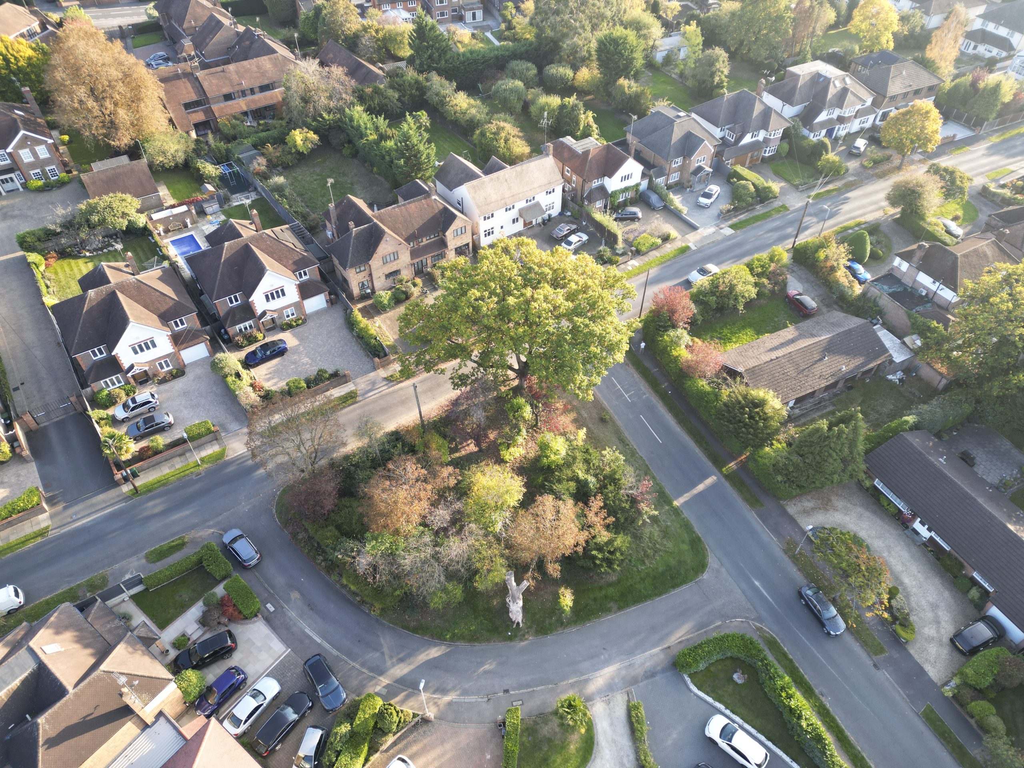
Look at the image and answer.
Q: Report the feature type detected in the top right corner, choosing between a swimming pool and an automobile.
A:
automobile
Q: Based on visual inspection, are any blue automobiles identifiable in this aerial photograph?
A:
Yes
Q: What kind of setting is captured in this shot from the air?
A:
residential area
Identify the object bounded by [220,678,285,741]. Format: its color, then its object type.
white car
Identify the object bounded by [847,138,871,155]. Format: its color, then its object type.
white car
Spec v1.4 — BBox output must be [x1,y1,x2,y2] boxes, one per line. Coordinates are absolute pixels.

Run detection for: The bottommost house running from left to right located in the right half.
[723,312,922,411]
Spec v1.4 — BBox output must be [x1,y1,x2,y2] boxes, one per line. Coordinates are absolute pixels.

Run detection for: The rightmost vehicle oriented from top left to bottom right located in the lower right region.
[796,581,848,639]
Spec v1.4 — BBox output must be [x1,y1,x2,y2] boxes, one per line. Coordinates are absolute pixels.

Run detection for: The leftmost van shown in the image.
[0,586,30,618]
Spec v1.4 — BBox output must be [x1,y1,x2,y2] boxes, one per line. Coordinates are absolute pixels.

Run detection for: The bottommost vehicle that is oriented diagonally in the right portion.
[701,711,770,768]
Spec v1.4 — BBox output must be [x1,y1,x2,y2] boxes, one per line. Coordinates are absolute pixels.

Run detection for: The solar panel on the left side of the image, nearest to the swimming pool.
[276,228,307,250]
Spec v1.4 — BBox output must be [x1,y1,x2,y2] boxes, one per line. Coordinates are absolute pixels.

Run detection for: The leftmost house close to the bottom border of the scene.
[0,598,189,768]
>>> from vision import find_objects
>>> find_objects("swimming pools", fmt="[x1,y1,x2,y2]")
[168,233,205,257]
